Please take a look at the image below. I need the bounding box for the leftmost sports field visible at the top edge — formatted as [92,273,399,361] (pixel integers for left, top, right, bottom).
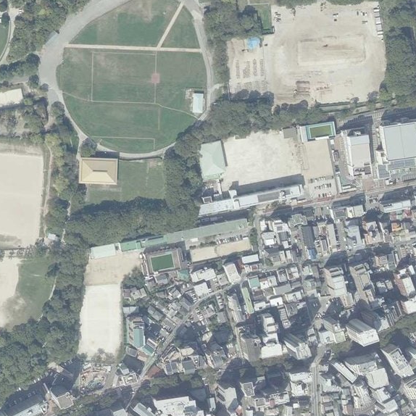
[57,0,208,153]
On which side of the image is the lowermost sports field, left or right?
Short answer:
left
